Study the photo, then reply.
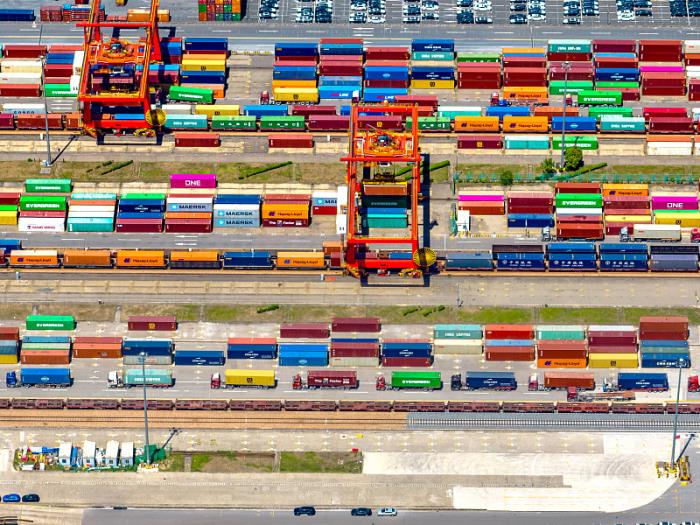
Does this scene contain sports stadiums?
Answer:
No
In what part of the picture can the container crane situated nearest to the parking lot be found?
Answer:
top left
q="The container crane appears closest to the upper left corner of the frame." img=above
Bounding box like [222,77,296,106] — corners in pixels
[62,0,161,137]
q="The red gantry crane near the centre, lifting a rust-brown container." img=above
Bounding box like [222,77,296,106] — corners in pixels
[332,103,436,277]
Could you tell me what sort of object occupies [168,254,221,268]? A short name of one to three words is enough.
rail car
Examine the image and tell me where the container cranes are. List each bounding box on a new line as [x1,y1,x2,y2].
[332,103,436,277]
[62,0,161,137]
